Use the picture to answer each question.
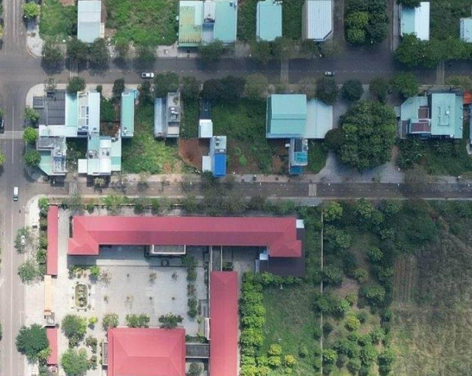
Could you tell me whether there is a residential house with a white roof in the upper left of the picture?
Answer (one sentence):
Yes, a residential house with a white roof is visible in the upper left of the picture.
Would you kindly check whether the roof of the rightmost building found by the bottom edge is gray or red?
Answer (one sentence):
The roof of the rightmost building found by the bottom edge is red.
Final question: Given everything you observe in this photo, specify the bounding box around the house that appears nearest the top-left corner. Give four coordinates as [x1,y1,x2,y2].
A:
[75,0,105,44]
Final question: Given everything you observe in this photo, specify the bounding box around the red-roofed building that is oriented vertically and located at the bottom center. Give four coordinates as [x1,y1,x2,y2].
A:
[203,270,238,376]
